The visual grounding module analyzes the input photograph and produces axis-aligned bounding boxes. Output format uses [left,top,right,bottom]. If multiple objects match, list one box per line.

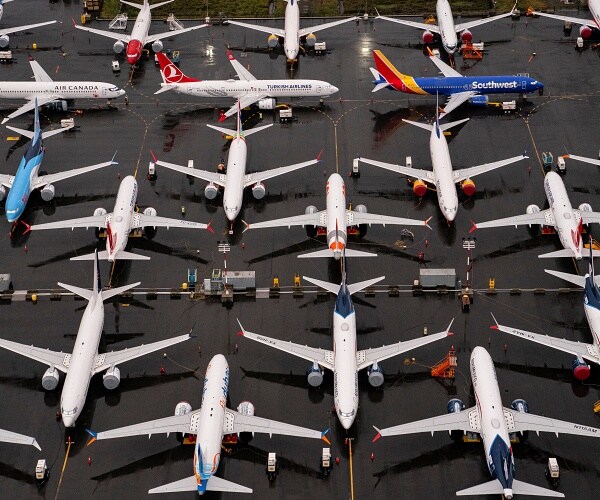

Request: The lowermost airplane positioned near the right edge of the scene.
[374,344,600,496]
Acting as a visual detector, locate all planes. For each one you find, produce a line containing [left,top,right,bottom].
[354,90,529,222]
[0,53,125,124]
[22,174,213,261]
[85,352,330,494]
[72,0,212,69]
[376,0,514,58]
[491,234,600,380]
[150,95,324,223]
[0,96,118,225]
[236,242,454,429]
[154,50,337,121]
[241,172,433,258]
[369,48,544,120]
[374,344,600,496]
[0,0,62,47]
[561,146,600,168]
[471,172,600,260]
[0,247,197,428]
[527,0,600,38]
[222,0,361,64]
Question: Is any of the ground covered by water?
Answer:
No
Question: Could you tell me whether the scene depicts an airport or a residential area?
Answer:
airport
